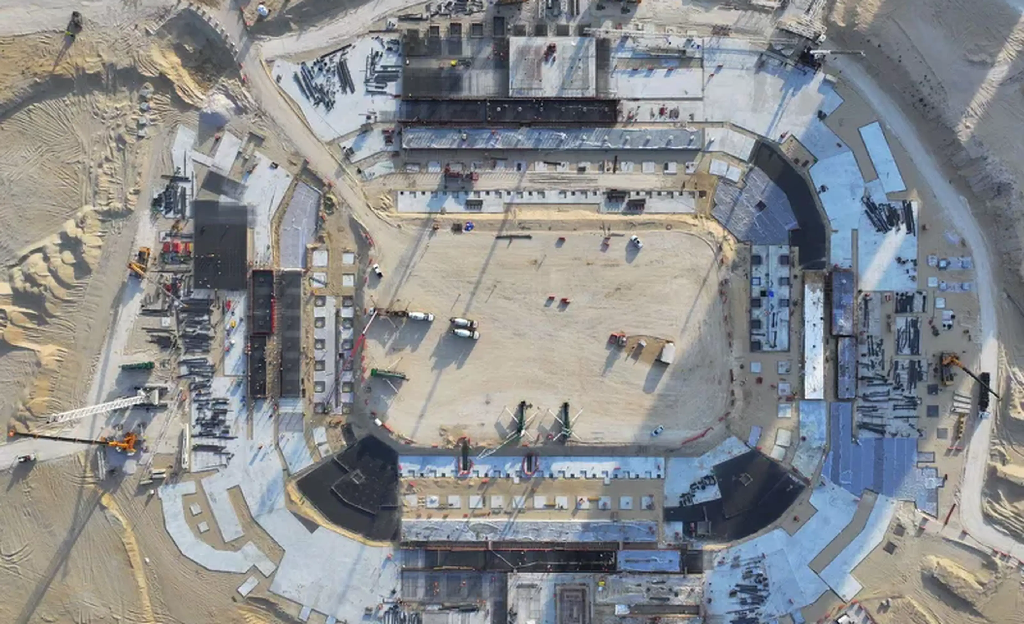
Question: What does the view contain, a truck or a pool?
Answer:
truck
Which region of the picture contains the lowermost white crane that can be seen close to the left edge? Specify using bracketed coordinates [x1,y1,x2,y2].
[46,385,171,423]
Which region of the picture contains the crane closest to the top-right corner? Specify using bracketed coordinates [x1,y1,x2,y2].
[792,39,868,74]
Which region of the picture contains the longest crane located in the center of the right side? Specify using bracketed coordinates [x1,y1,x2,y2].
[934,351,1002,400]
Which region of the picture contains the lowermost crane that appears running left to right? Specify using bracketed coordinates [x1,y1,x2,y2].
[7,428,140,458]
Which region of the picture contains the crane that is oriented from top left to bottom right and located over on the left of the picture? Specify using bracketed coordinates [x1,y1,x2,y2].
[120,240,194,311]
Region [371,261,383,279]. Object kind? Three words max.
vehicle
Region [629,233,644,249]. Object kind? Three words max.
car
